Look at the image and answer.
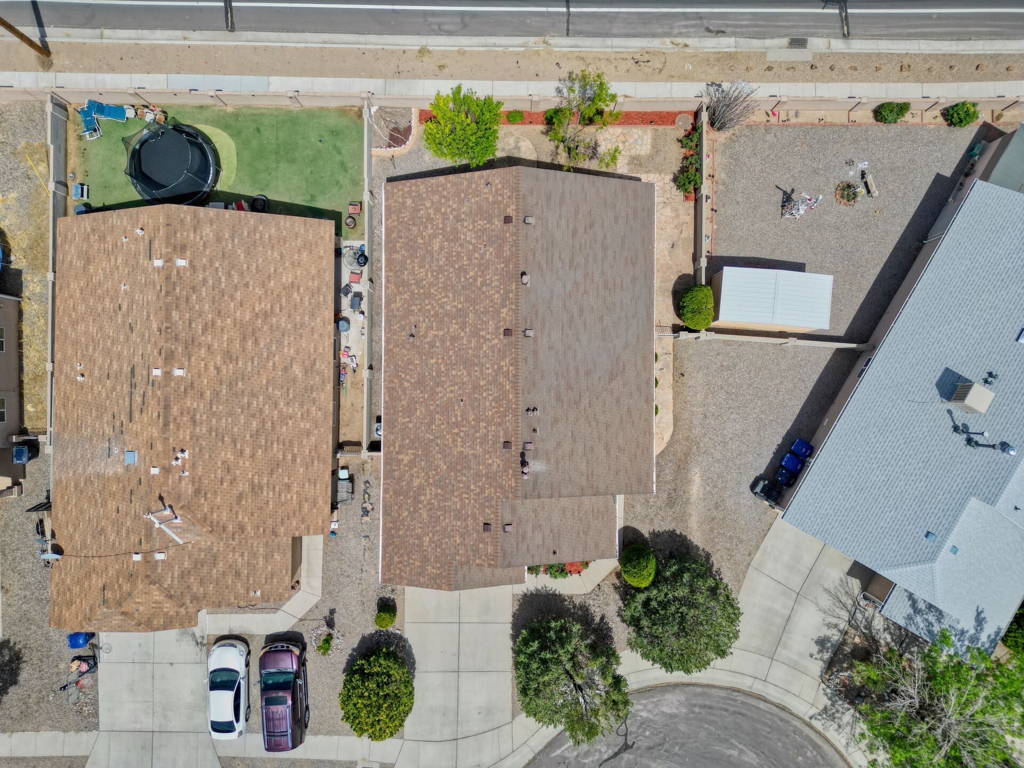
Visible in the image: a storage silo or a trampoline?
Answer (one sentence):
Looking from above, you can make out a trampoline.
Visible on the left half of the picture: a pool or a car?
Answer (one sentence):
What appears on the left half of the picture is a car.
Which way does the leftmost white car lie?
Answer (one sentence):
The leftmost white car has been laid out from top to bottom relative to the frame.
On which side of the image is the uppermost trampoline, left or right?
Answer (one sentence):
The uppermost trampoline is on the left side of the image.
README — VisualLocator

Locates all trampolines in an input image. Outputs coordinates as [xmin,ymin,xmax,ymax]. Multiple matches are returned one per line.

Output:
[0,227,14,291]
[121,114,221,206]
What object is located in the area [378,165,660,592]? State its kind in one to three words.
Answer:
house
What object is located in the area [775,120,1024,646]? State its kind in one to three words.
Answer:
house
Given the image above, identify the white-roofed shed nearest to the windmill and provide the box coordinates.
[712,266,833,333]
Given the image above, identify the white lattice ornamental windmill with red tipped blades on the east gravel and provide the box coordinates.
[781,195,823,220]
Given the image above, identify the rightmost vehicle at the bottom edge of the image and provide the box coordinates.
[256,638,309,748]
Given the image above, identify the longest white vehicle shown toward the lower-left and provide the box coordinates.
[202,637,254,740]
